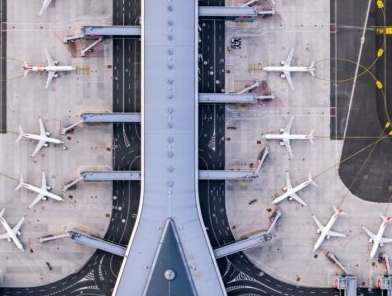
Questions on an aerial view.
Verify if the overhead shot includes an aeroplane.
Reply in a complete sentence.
Yes, an aeroplane can be made out from above.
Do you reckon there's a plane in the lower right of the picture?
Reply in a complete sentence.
Yes, I can see a plane in the lower right of the picture.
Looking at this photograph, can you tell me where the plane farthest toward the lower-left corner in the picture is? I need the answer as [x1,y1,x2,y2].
[0,212,25,250]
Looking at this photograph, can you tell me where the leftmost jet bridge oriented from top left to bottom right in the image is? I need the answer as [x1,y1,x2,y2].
[325,251,349,275]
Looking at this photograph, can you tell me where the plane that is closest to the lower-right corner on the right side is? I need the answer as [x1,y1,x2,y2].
[363,215,392,259]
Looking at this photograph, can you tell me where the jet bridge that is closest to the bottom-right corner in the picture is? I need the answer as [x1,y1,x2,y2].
[379,251,391,275]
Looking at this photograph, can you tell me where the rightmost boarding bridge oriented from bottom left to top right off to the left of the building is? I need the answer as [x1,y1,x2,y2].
[78,36,104,56]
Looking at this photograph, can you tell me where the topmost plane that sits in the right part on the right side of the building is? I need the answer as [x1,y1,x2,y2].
[263,46,317,90]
